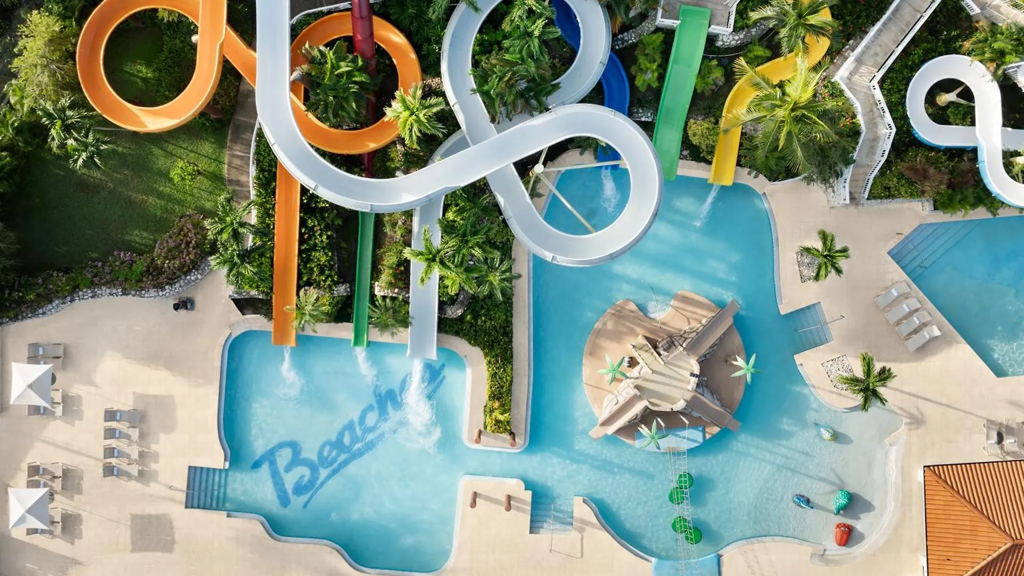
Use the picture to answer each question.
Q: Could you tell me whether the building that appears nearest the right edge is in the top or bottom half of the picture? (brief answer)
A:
bottom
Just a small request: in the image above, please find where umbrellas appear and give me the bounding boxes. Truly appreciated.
[10,487,64,529]
[13,363,67,405]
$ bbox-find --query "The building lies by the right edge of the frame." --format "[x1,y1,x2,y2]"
[910,457,1024,576]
